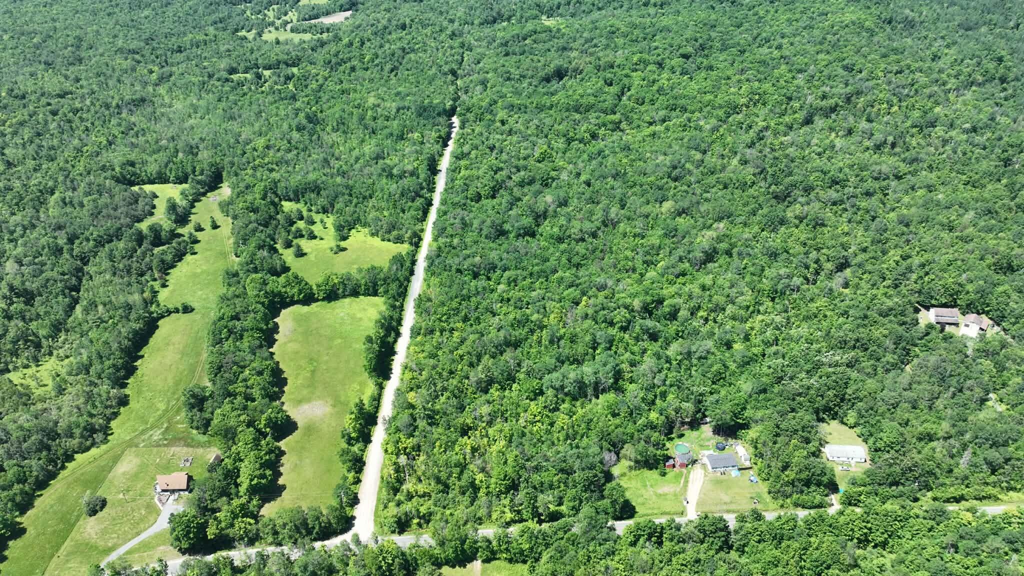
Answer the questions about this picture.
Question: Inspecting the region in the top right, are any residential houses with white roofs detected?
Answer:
No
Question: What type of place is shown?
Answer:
forest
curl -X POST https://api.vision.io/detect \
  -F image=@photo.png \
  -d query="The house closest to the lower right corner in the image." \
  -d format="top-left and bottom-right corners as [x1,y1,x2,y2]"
[824,444,867,463]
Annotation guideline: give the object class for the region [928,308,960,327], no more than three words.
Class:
house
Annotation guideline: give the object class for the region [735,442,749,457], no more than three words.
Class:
vehicle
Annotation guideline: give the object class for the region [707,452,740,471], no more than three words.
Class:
house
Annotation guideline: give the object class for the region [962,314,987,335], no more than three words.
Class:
building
